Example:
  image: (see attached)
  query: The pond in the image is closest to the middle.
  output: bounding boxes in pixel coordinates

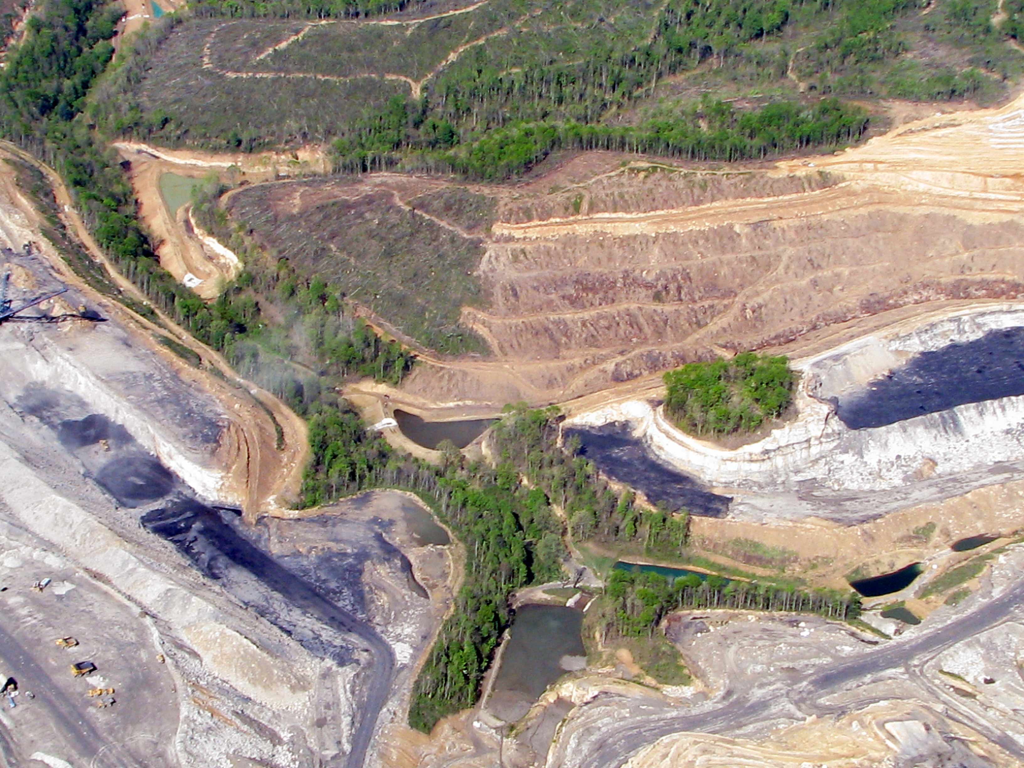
[394,409,499,449]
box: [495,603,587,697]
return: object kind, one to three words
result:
pond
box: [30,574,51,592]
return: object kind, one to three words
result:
vehicle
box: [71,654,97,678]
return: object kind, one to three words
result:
truck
